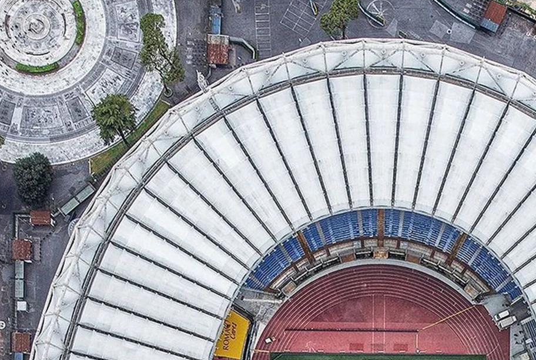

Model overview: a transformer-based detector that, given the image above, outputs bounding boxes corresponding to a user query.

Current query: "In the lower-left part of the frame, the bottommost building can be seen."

[10,332,34,353]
